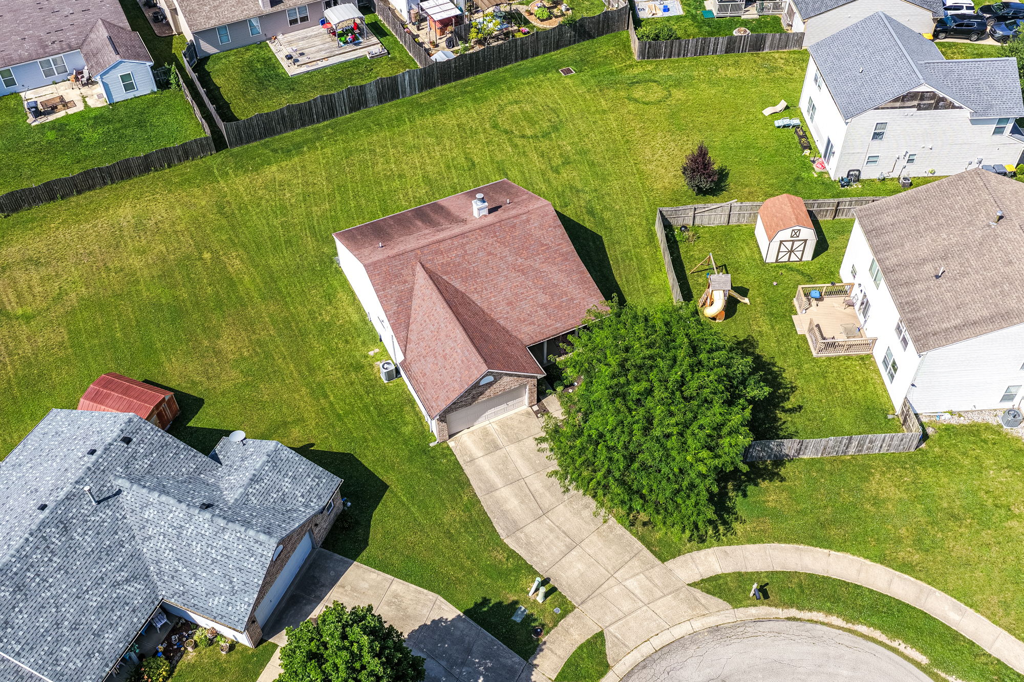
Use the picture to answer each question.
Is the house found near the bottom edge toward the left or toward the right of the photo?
left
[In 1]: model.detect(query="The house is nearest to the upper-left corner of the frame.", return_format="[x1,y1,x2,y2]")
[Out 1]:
[0,0,158,103]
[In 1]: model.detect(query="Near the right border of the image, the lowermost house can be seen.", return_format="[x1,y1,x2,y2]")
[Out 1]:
[839,167,1024,416]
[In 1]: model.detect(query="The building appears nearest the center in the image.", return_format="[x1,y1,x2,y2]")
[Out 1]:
[329,177,612,449]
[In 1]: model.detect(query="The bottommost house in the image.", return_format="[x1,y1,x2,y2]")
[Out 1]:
[0,411,346,682]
